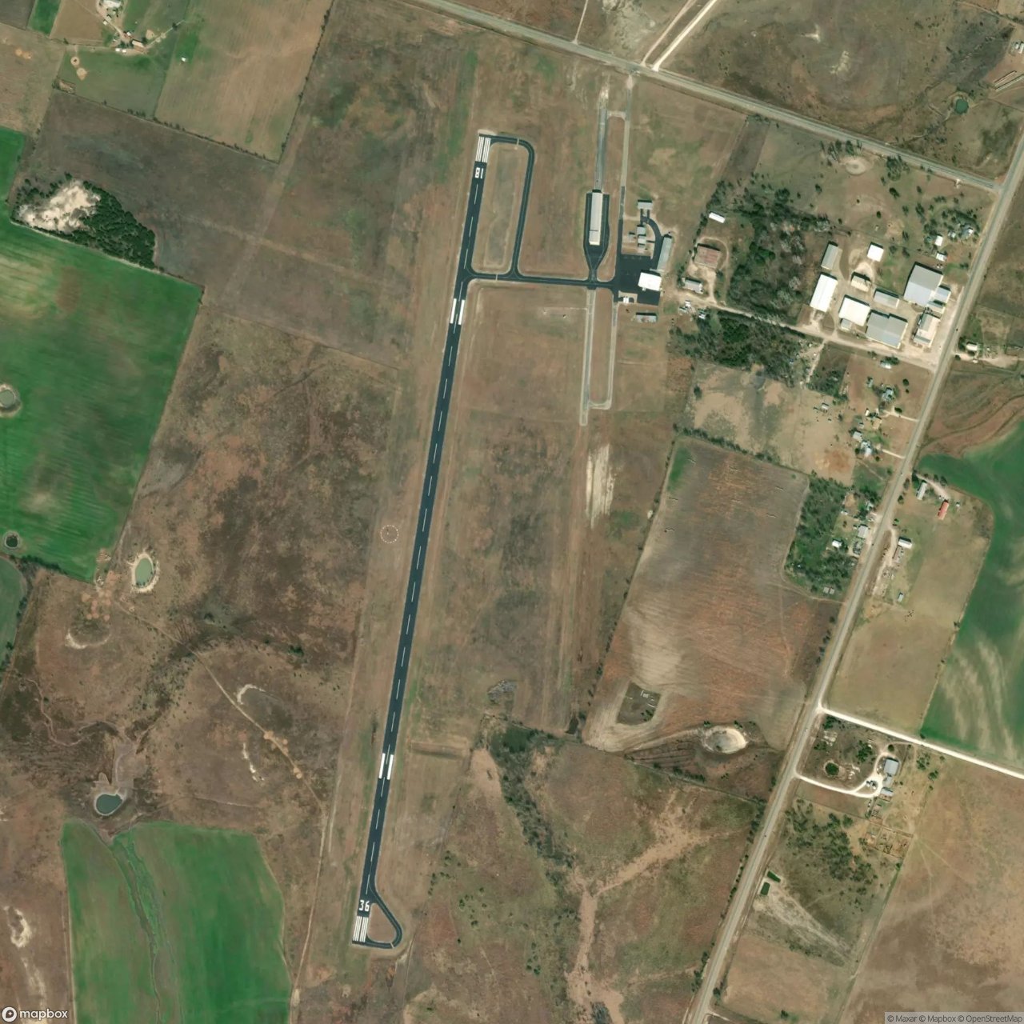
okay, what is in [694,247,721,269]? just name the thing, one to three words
barn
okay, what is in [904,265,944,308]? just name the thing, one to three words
building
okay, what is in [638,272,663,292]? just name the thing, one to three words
hangar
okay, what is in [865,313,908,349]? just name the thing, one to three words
building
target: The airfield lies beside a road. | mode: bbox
[353,108,663,949]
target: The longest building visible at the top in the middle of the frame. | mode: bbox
[589,193,603,246]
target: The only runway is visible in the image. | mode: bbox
[353,133,491,945]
